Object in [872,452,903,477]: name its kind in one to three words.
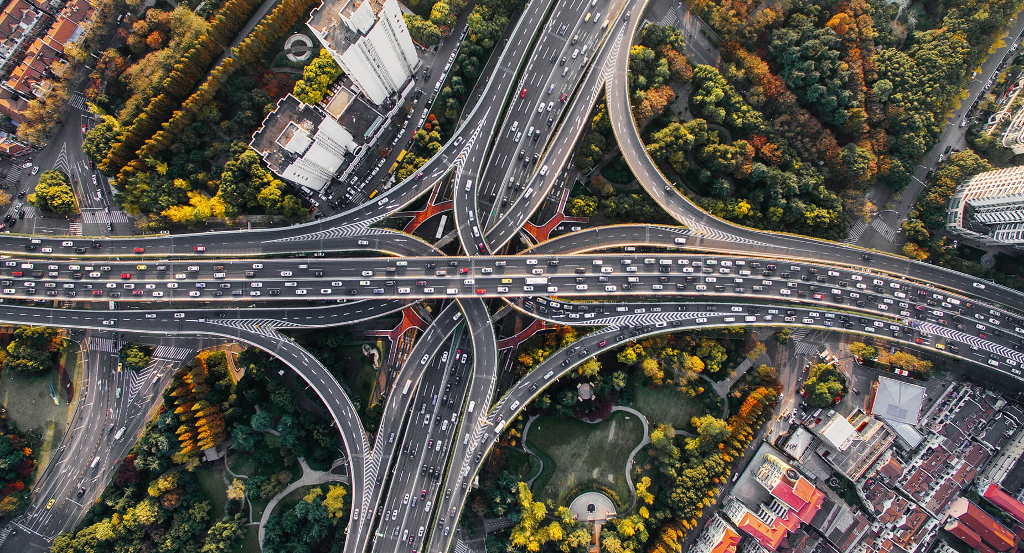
house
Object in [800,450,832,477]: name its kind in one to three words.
shed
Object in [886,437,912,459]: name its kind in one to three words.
house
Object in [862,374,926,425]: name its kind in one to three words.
building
